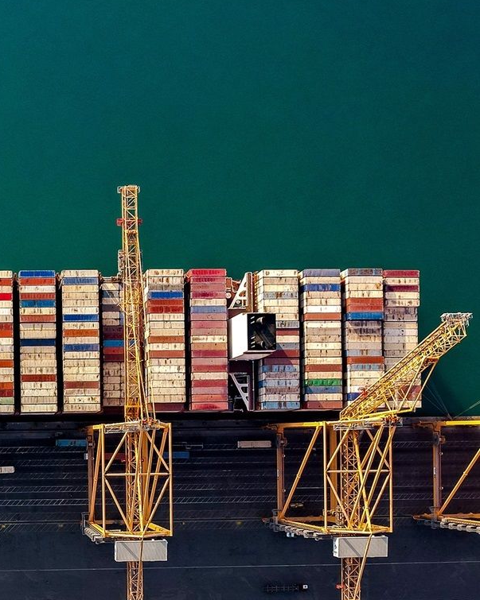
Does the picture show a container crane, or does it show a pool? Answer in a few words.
container crane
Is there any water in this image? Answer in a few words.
Yes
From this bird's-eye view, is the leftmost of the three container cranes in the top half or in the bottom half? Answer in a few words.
bottom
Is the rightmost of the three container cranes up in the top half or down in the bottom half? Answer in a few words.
bottom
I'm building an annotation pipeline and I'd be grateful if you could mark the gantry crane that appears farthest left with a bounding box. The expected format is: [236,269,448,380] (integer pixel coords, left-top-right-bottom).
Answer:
[66,185,174,600]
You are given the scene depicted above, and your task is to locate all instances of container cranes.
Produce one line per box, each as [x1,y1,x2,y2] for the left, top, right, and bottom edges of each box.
[406,418,480,531]
[66,185,174,600]
[250,306,473,600]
